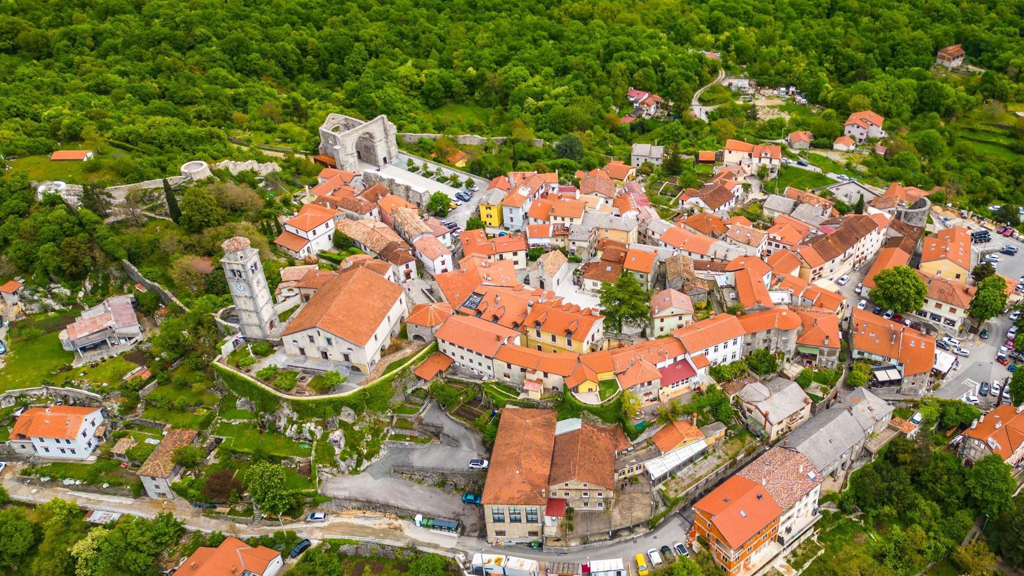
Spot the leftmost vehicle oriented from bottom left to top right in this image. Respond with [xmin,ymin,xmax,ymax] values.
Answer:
[288,539,309,557]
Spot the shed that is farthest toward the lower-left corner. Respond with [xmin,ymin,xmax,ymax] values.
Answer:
[87,508,122,532]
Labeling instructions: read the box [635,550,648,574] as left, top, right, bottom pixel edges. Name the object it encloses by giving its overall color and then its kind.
yellow vehicle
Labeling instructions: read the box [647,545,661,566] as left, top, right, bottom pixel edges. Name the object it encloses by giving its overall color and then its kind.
white car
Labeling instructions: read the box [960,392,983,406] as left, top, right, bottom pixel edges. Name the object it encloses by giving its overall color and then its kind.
white car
